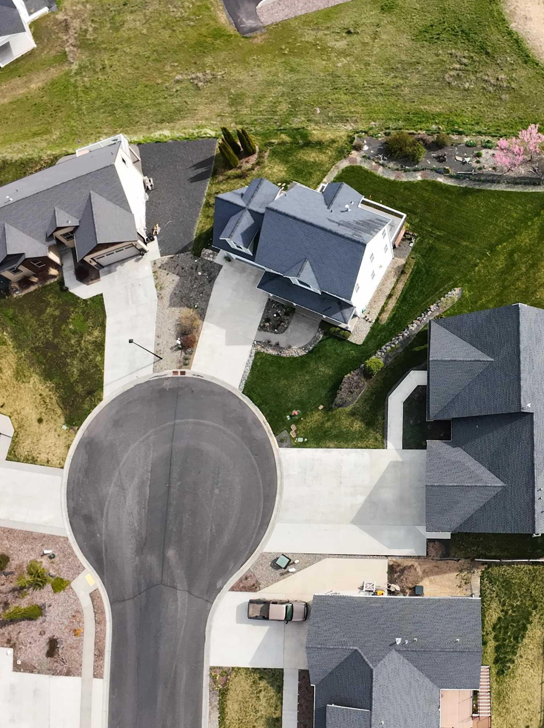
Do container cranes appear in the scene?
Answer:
No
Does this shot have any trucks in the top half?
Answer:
No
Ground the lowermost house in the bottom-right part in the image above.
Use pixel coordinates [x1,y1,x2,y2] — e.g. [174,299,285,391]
[305,593,491,728]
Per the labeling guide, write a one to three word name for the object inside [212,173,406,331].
house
